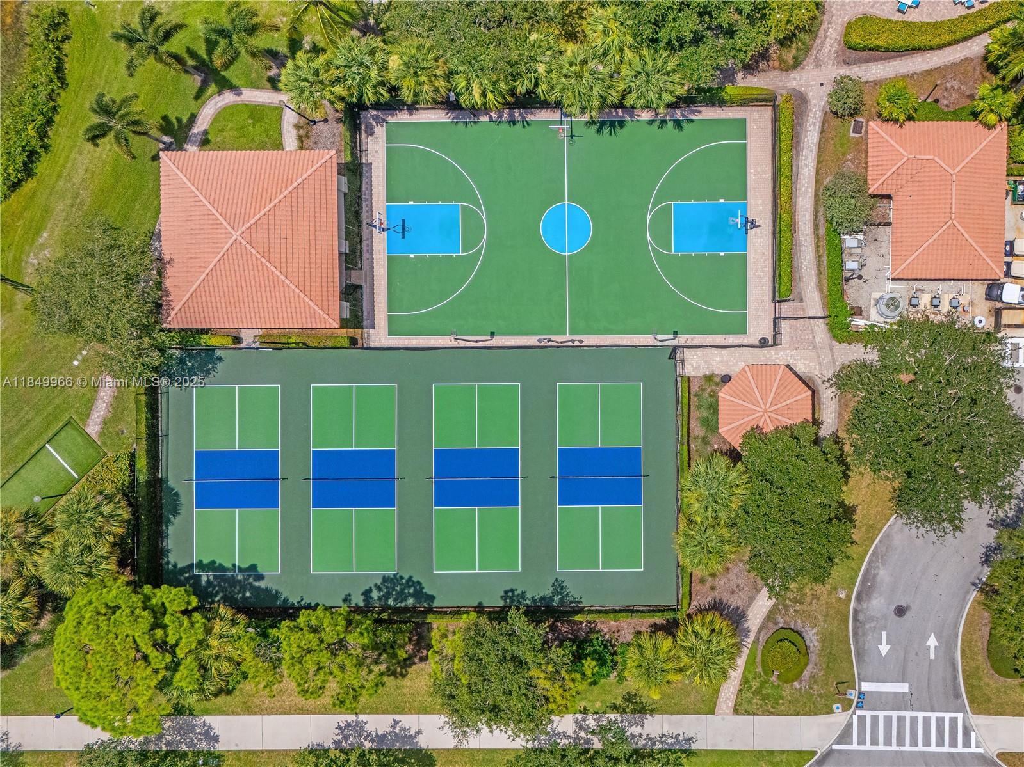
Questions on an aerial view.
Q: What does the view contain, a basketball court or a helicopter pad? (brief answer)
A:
basketball court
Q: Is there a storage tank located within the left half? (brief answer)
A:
No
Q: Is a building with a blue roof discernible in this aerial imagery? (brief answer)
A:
No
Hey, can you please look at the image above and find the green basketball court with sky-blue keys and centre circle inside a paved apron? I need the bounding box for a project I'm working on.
[385,118,747,336]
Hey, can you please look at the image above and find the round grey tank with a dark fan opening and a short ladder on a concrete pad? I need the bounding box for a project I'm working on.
[872,292,904,320]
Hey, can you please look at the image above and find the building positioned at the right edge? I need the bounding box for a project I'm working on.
[866,119,1008,281]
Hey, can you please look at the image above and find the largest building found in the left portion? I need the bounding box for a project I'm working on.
[159,148,350,330]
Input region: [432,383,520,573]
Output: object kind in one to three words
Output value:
sports court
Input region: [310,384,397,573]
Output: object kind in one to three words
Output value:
sports court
